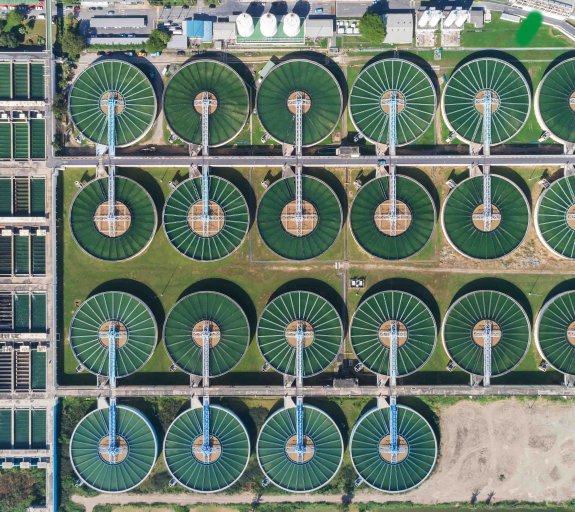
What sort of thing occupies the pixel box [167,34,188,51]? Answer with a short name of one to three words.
building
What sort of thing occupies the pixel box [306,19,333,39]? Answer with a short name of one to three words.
building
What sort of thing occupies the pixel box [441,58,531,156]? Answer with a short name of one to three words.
water tank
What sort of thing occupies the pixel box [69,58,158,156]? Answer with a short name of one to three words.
water tank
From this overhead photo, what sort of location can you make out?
industrial area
